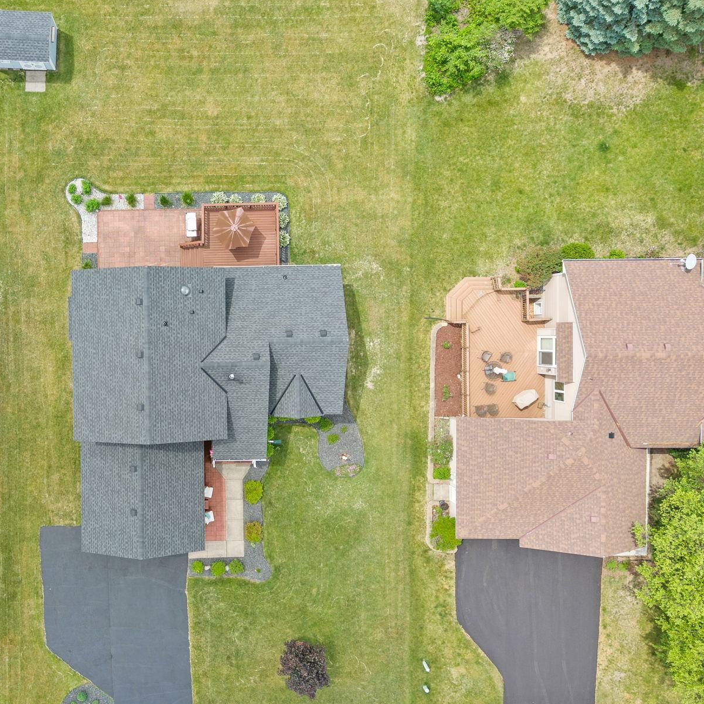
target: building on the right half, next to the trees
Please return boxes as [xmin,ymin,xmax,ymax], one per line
[450,254,704,558]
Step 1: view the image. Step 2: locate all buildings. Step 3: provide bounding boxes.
[0,9,57,69]
[450,254,704,558]
[68,264,348,559]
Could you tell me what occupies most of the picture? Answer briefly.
grass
